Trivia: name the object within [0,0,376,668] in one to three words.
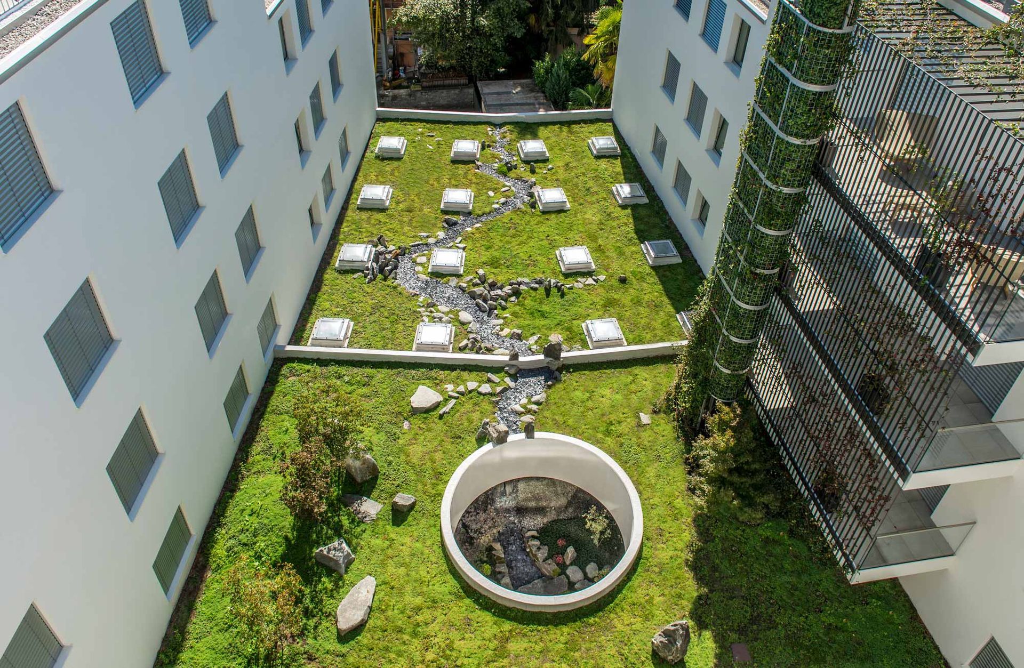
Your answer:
building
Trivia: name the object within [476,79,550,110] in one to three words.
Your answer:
building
